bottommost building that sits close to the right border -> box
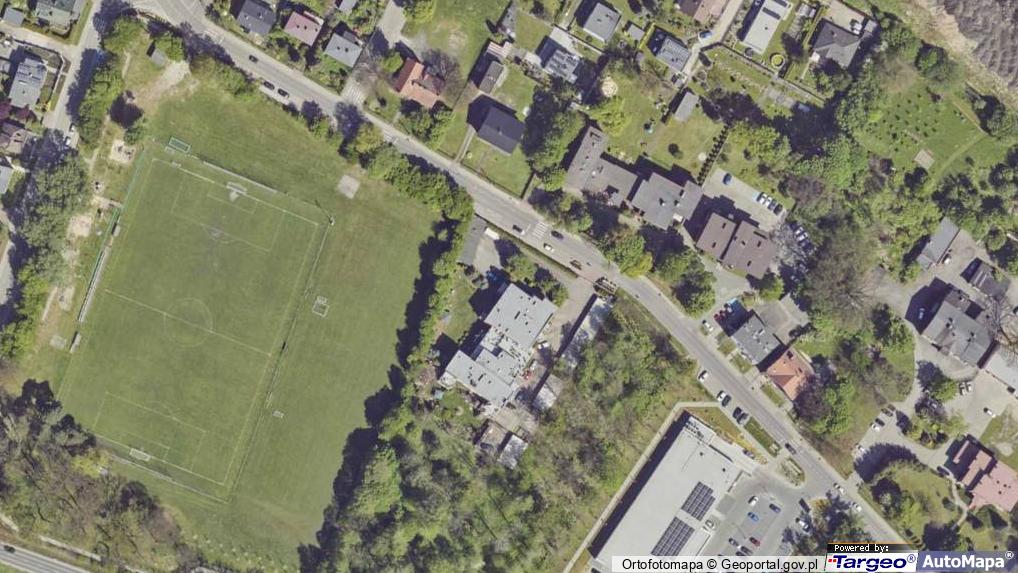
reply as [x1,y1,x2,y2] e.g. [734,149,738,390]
[949,441,1018,514]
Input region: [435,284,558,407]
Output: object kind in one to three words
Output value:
building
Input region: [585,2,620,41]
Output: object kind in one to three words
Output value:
house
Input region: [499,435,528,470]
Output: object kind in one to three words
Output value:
shed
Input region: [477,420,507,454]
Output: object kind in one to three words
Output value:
shed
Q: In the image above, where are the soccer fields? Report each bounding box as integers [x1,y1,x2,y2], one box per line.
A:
[57,153,324,489]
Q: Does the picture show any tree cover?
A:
Yes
